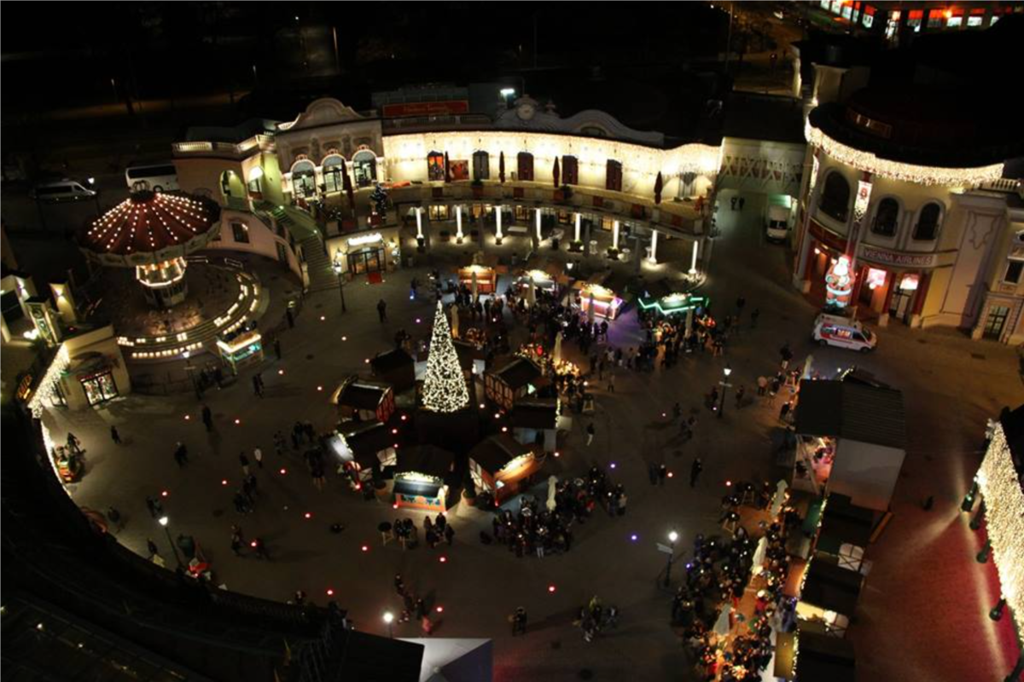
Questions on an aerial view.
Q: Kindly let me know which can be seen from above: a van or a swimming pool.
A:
van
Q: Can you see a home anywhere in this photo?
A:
Yes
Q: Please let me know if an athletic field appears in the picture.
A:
No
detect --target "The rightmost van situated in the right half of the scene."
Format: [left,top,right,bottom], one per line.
[812,309,888,354]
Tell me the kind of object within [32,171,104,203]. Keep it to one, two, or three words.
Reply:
van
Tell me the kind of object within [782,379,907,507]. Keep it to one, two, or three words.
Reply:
building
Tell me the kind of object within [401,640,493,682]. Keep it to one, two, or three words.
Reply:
tent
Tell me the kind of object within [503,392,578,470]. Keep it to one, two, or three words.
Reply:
shed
